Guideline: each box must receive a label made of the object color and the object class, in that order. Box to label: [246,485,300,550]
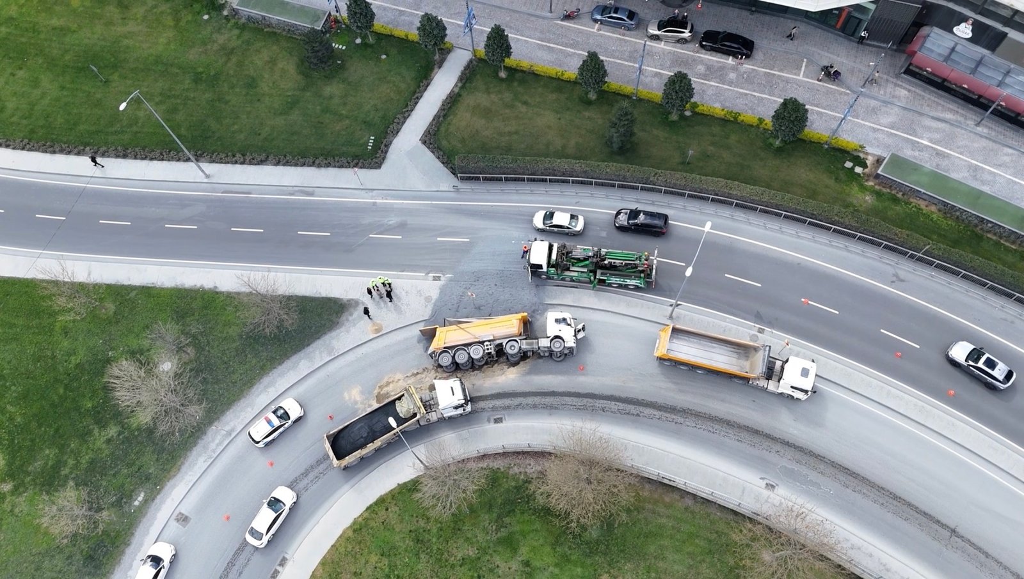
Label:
white car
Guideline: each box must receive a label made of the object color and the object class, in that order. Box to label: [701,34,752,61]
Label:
black car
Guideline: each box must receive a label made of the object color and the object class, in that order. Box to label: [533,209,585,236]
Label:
white car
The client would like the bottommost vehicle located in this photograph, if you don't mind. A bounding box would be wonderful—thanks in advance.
[137,541,183,579]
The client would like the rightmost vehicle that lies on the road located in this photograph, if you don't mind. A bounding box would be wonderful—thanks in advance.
[943,346,1015,392]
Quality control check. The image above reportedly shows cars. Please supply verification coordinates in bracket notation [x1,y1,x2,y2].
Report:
[943,346,1015,392]
[533,209,585,236]
[614,209,668,237]
[701,34,752,61]
[592,7,638,31]
[246,485,300,550]
[137,541,183,579]
[647,18,693,46]
[247,401,307,449]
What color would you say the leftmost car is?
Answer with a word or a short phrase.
white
